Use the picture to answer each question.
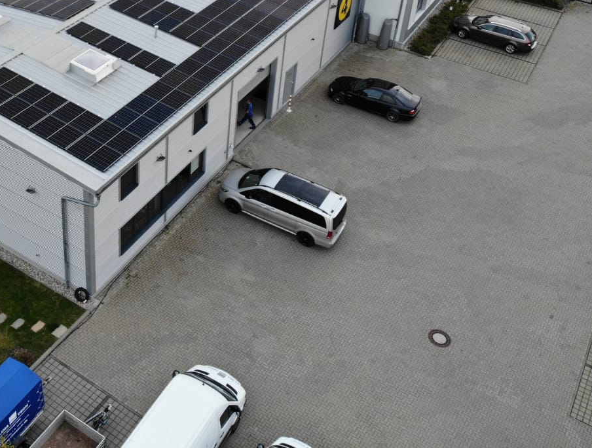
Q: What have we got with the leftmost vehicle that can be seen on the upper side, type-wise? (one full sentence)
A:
From above, the leftmost vehicle that can be seen on the upper side can be identified as a car.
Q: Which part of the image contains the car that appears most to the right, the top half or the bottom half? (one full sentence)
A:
The top half of the photo is where the car that appears most to the right is.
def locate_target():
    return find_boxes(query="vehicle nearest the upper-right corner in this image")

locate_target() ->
[445,9,537,49]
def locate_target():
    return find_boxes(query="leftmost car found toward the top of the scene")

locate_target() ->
[325,69,422,117]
